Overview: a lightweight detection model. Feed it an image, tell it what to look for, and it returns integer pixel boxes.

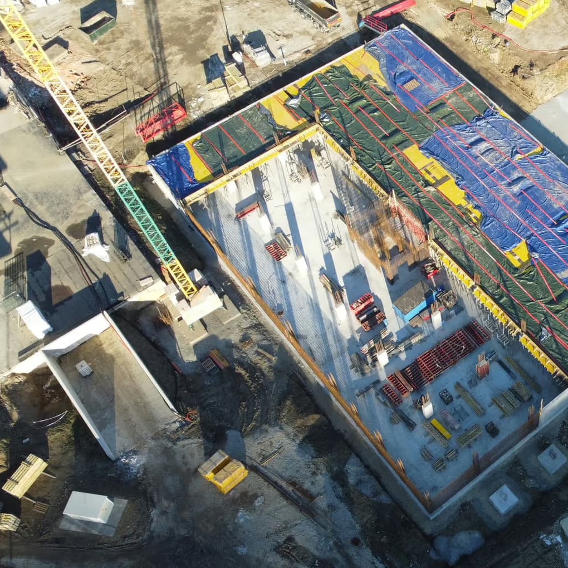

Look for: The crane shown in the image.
[0,0,231,330]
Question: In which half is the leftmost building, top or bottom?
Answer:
bottom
